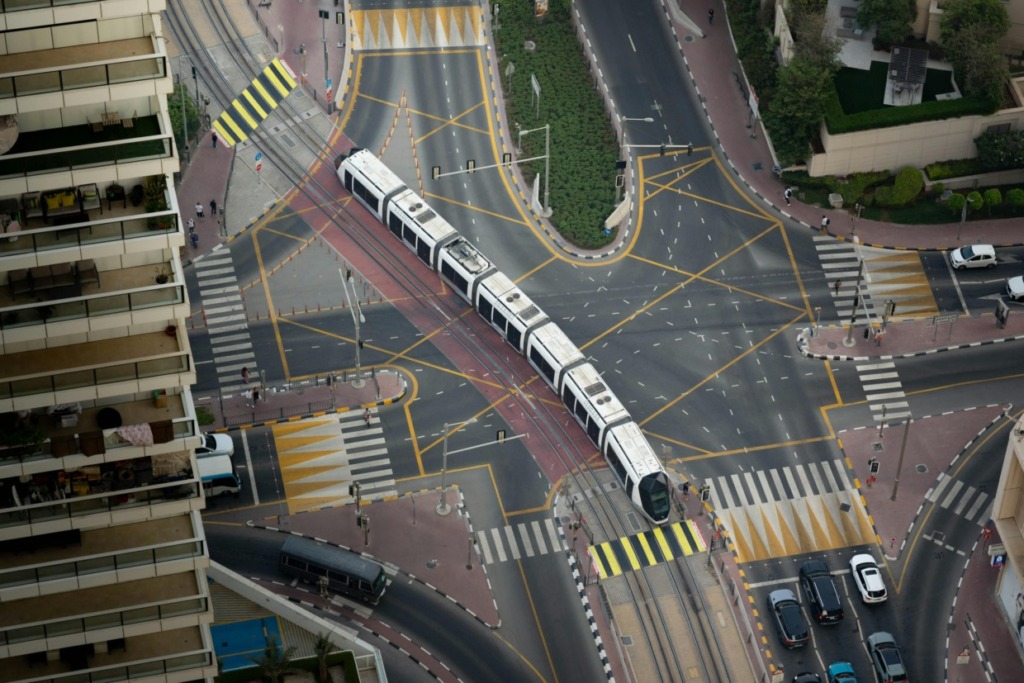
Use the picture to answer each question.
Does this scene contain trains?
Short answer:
Yes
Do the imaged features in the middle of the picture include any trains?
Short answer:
Yes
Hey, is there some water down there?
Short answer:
No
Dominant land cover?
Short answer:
paved ground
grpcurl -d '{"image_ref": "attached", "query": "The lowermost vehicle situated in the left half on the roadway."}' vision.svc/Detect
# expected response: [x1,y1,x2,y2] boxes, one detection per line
[278,534,387,606]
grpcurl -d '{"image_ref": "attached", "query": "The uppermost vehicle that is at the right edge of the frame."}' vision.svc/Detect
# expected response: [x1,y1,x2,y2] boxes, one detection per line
[949,243,999,271]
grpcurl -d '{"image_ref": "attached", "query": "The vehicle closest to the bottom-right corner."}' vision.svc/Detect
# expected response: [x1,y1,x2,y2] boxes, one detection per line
[868,634,909,683]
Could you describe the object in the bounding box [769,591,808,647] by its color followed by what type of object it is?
black car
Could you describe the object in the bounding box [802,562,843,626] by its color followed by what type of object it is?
black car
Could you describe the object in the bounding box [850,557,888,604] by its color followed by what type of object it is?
white car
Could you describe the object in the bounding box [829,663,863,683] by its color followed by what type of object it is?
blue car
